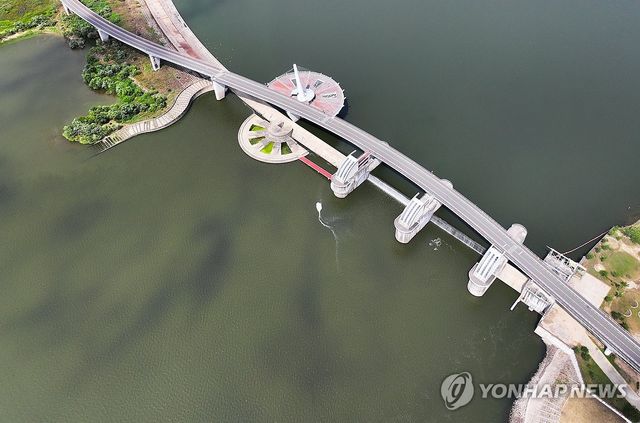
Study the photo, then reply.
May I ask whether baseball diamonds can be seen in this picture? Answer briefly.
No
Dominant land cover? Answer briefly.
water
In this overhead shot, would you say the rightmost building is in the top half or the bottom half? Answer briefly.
bottom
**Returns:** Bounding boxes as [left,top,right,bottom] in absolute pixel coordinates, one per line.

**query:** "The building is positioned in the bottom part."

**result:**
[509,280,556,322]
